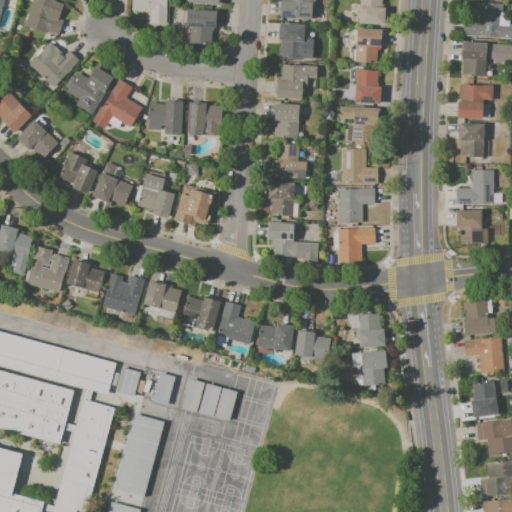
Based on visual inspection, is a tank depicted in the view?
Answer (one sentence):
No, I find no tank anywhere in the image.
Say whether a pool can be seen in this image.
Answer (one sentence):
Yes, you can see a pool in this photo.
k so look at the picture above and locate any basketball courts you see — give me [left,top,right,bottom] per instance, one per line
[181,435,223,502]
[214,444,255,512]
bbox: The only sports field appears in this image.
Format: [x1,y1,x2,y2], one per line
[245,386,401,512]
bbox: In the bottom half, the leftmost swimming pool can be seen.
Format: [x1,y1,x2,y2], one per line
[184,326,212,344]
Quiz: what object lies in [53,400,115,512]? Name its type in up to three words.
building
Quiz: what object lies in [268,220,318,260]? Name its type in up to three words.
house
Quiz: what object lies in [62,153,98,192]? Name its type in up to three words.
house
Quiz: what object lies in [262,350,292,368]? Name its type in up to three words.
swimming pool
